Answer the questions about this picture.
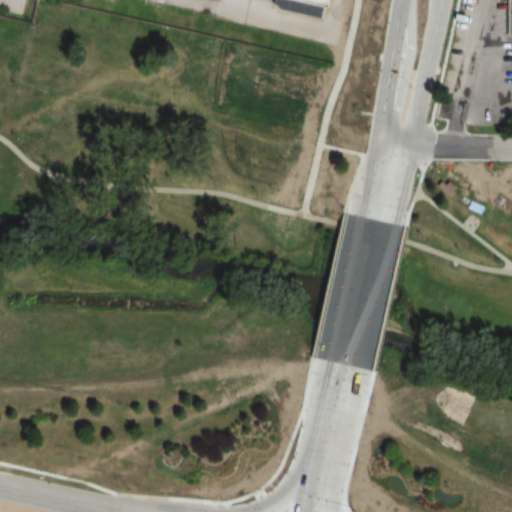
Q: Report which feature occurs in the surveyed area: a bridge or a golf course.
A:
bridge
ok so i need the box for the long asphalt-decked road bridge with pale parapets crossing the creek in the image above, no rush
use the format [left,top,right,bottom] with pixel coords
[312,213,408,372]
